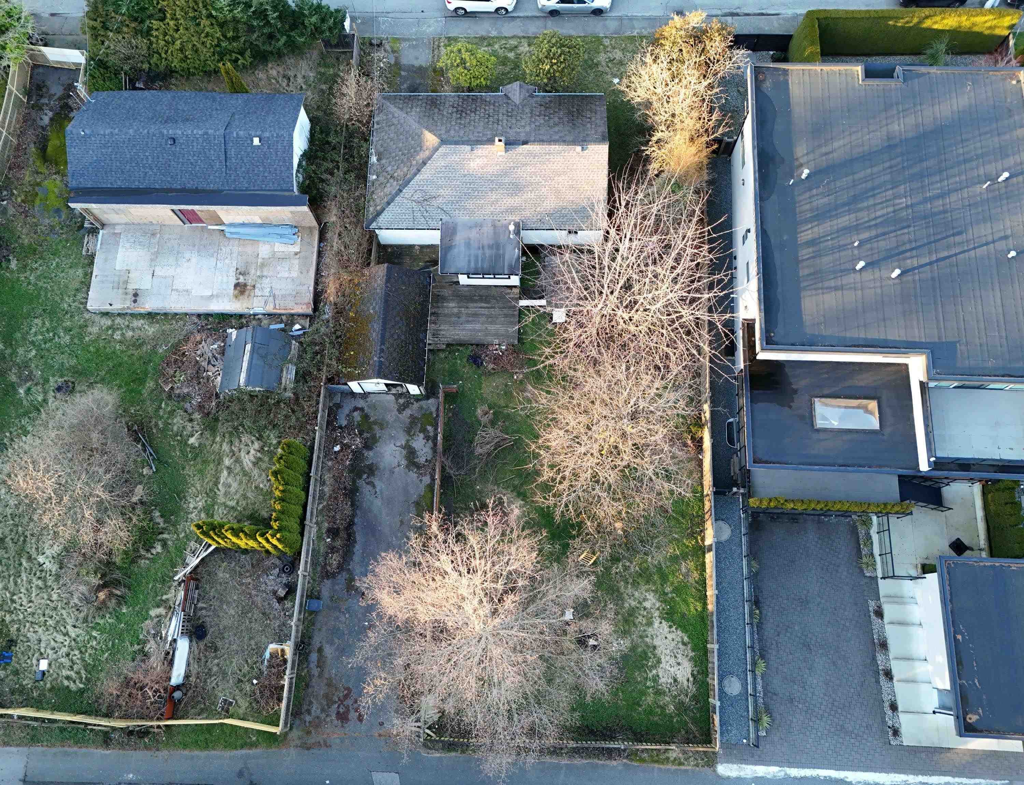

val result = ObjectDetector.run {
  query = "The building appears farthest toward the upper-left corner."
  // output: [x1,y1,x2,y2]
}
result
[66,91,321,227]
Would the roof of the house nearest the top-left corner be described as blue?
Yes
